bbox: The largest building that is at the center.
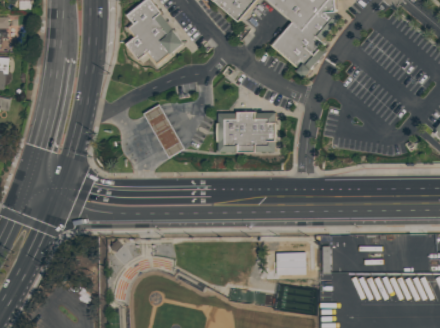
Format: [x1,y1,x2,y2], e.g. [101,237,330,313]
[216,112,276,154]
